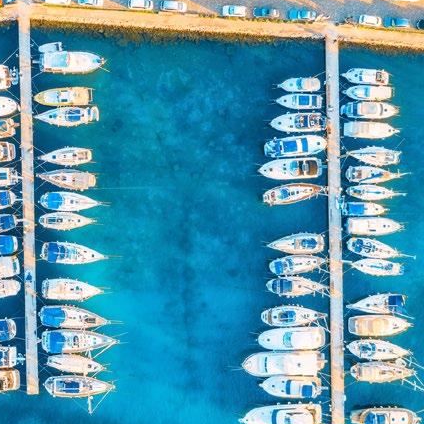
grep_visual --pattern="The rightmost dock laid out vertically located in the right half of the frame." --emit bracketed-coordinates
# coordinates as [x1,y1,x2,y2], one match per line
[324,39,345,424]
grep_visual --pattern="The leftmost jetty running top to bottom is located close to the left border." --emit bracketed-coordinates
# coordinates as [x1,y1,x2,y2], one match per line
[18,18,38,395]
